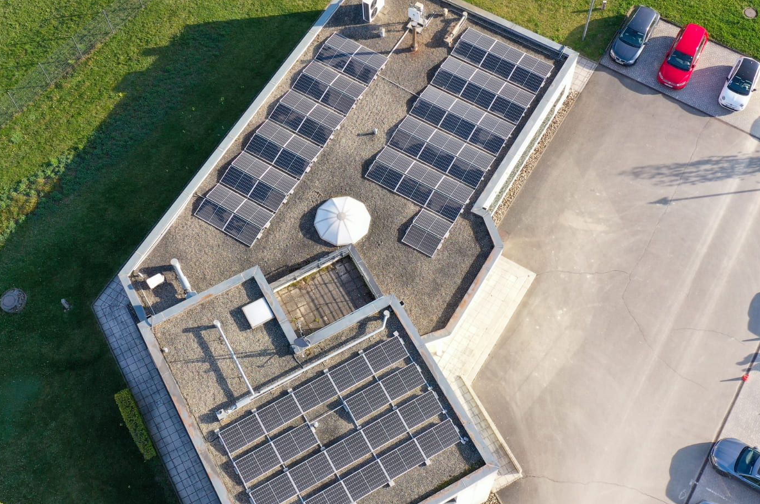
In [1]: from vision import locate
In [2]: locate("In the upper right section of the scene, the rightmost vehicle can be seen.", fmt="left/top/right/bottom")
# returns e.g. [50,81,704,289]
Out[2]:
[717,53,760,112]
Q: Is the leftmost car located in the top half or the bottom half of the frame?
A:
top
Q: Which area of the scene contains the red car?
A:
top right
